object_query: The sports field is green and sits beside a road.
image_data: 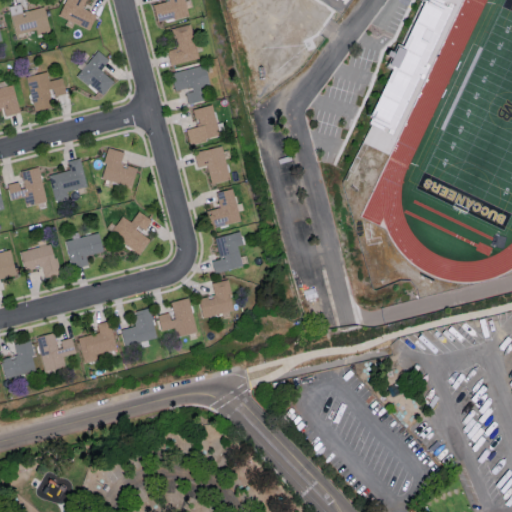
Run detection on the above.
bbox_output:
[403,0,512,259]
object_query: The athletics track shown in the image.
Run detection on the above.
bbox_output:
[360,0,512,281]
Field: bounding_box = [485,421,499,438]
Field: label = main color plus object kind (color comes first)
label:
white camper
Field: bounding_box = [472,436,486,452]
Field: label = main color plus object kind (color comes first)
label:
white camper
